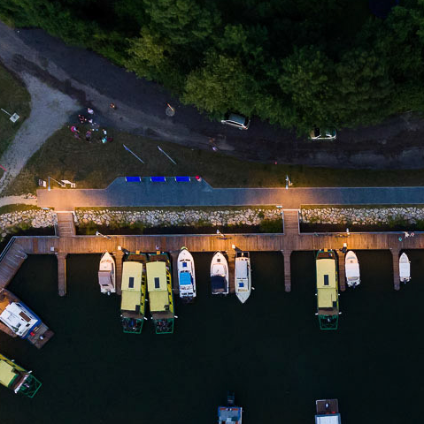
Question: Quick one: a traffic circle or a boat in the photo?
boat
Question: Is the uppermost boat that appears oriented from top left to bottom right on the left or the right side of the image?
left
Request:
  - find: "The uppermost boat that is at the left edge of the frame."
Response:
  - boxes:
[0,288,54,348]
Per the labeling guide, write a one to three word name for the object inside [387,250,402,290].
pier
